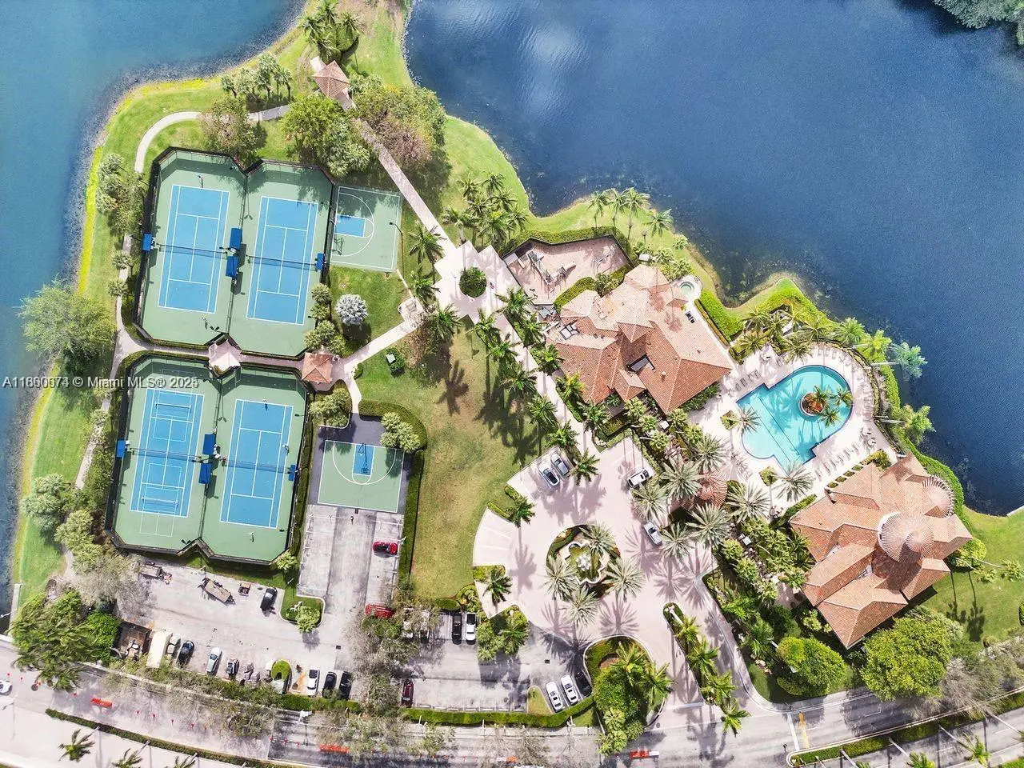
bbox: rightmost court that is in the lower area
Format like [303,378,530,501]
[317,439,405,514]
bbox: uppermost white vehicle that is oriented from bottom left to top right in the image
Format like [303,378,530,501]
[627,469,651,489]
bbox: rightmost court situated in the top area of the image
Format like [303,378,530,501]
[328,184,404,273]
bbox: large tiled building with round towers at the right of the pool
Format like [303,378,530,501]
[790,450,972,649]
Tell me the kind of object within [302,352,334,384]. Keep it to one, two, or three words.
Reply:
gazebo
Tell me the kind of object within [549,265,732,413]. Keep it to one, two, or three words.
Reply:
building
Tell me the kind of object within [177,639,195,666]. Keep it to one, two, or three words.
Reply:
car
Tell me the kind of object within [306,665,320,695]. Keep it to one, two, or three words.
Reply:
vehicle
